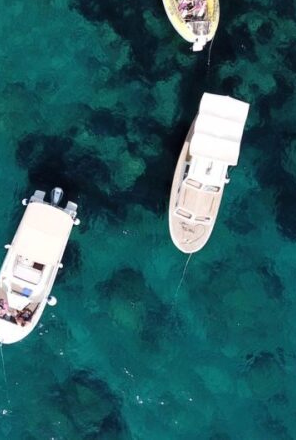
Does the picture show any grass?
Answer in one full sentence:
No, the picture contains no grass.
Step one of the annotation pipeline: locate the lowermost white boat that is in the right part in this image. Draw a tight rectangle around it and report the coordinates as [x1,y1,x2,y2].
[171,93,248,253]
